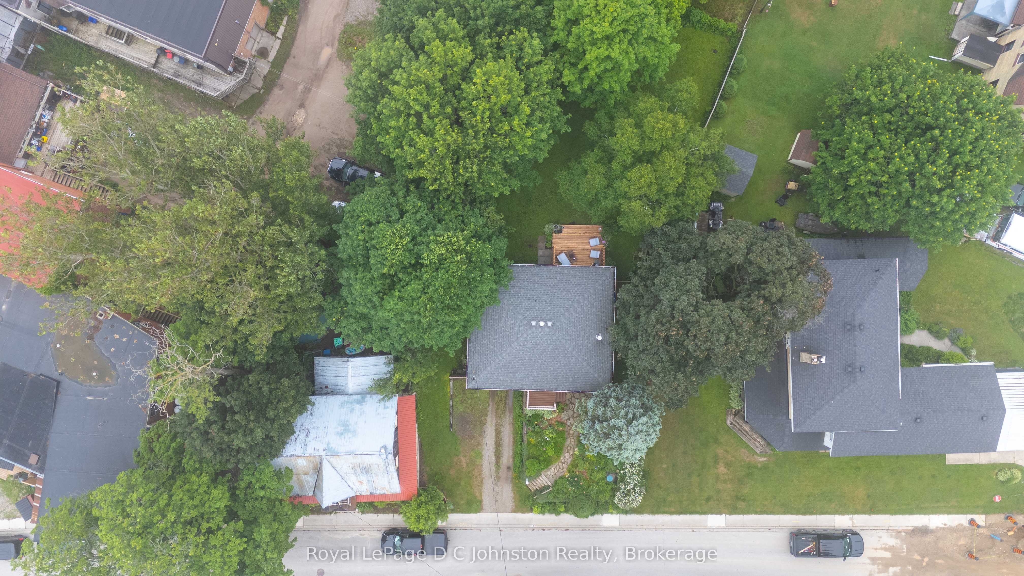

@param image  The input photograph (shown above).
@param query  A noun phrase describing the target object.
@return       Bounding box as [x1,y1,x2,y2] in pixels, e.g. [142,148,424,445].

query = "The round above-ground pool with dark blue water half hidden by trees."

[276,305,329,352]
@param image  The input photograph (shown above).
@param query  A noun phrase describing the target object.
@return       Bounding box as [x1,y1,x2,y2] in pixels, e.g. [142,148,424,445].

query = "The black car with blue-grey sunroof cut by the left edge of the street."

[0,530,29,559]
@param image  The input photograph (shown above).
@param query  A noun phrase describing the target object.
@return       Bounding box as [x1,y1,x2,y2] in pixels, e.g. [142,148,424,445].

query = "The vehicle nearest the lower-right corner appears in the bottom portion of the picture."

[787,526,865,559]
